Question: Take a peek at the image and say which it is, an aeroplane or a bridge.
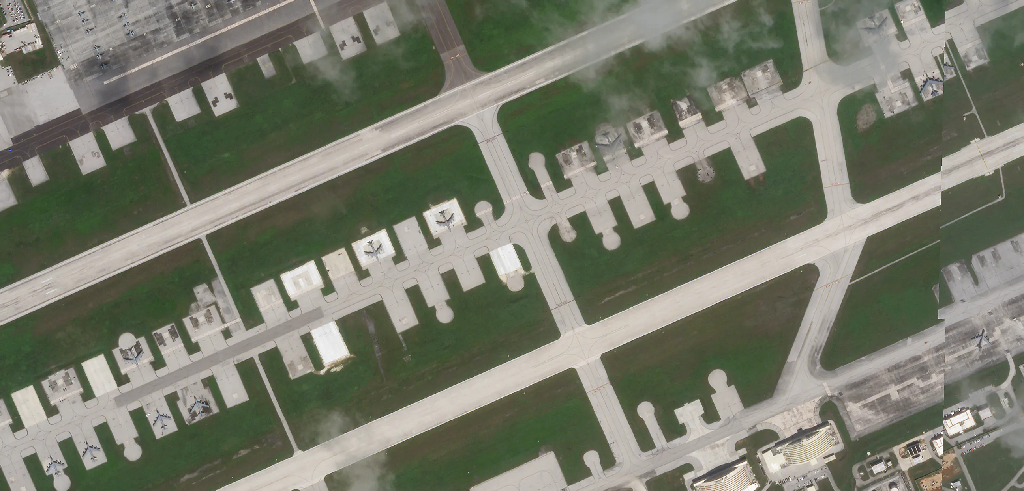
aeroplane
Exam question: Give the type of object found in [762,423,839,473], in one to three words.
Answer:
hangar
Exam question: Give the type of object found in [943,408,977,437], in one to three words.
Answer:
building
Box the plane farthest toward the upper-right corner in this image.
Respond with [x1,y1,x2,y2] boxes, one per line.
[919,73,945,95]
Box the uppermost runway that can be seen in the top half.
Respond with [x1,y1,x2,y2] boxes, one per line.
[0,0,736,325]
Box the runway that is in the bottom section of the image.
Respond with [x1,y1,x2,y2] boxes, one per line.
[217,171,941,491]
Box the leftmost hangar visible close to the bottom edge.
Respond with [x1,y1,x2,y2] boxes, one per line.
[693,459,760,491]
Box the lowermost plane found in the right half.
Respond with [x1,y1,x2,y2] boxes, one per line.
[972,329,991,349]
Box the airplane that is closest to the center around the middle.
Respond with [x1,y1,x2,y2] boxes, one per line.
[437,212,455,231]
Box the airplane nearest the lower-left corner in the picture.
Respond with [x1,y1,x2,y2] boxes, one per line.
[46,456,64,476]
